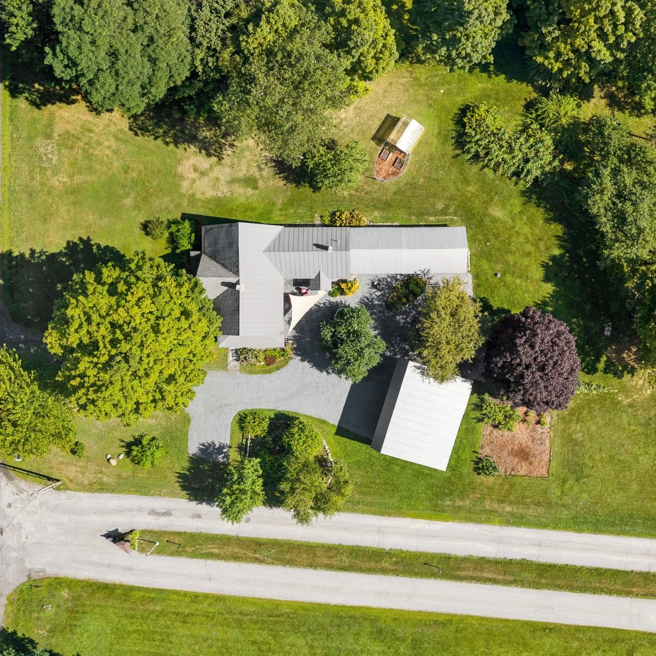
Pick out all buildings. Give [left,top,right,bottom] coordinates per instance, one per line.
[387,114,425,156]
[190,223,468,347]
[370,359,473,472]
